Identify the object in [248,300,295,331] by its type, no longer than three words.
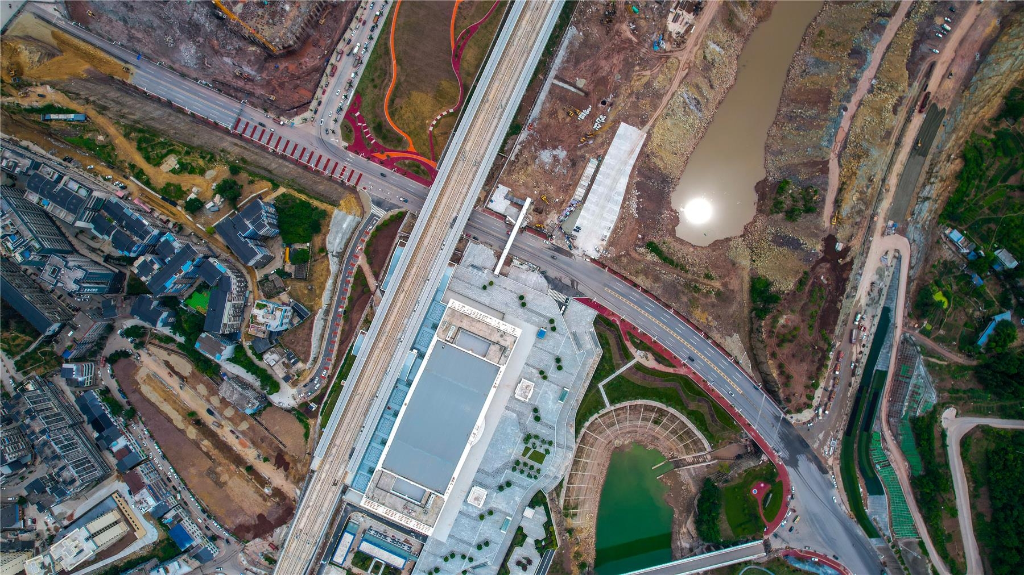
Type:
house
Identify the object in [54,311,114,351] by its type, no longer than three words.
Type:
building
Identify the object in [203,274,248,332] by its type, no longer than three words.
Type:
building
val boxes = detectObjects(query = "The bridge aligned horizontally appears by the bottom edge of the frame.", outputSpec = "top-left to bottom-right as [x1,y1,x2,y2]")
[620,541,766,575]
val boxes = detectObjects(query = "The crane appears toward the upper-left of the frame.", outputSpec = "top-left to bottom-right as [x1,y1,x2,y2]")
[202,0,285,60]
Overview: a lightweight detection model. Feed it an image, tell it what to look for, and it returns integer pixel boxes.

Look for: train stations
[346,240,522,535]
